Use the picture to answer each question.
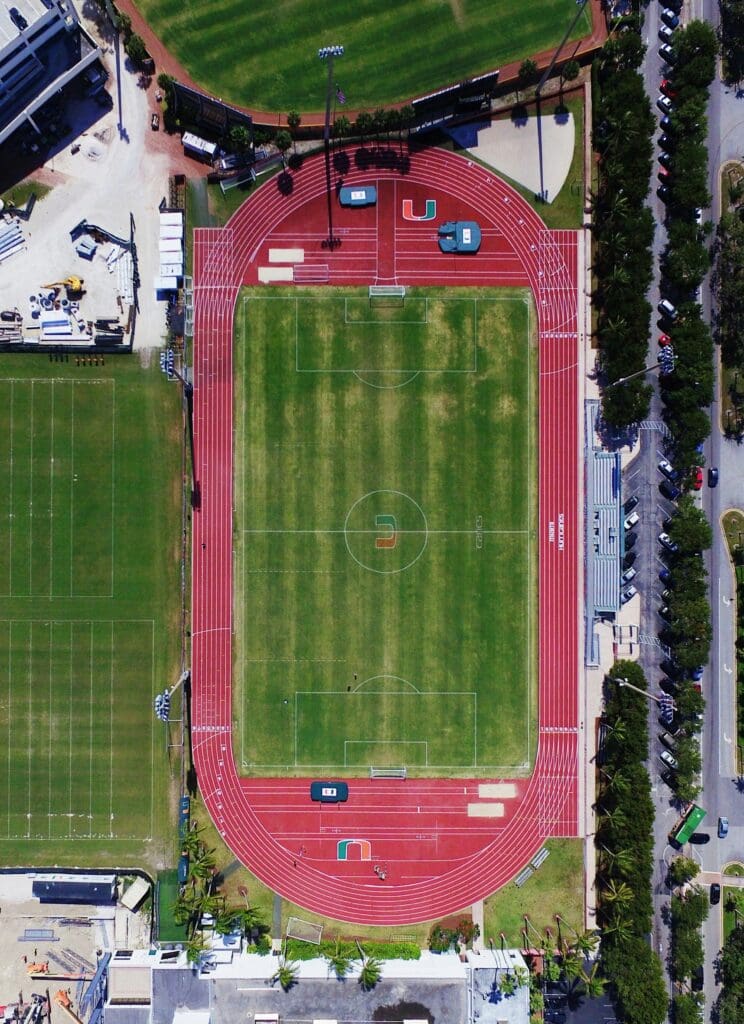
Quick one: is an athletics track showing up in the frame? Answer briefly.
Yes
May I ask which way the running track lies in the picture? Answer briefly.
up and down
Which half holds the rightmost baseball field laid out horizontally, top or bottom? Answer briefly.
top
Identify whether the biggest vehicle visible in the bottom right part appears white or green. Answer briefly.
green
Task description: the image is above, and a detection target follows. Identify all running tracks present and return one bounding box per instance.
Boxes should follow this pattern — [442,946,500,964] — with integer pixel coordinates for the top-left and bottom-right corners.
[192,140,579,926]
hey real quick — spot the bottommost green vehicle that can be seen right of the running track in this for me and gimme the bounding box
[668,797,707,846]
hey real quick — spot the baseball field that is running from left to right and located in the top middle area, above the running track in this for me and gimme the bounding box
[124,0,606,124]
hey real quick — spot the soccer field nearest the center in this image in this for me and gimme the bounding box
[233,286,539,780]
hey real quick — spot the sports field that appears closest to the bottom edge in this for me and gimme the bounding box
[0,608,182,868]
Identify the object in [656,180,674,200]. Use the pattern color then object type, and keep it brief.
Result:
black car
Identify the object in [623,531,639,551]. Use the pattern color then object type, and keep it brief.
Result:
black car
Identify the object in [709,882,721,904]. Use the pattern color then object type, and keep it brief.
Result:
black vehicle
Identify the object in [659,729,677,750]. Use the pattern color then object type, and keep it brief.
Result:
gray car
